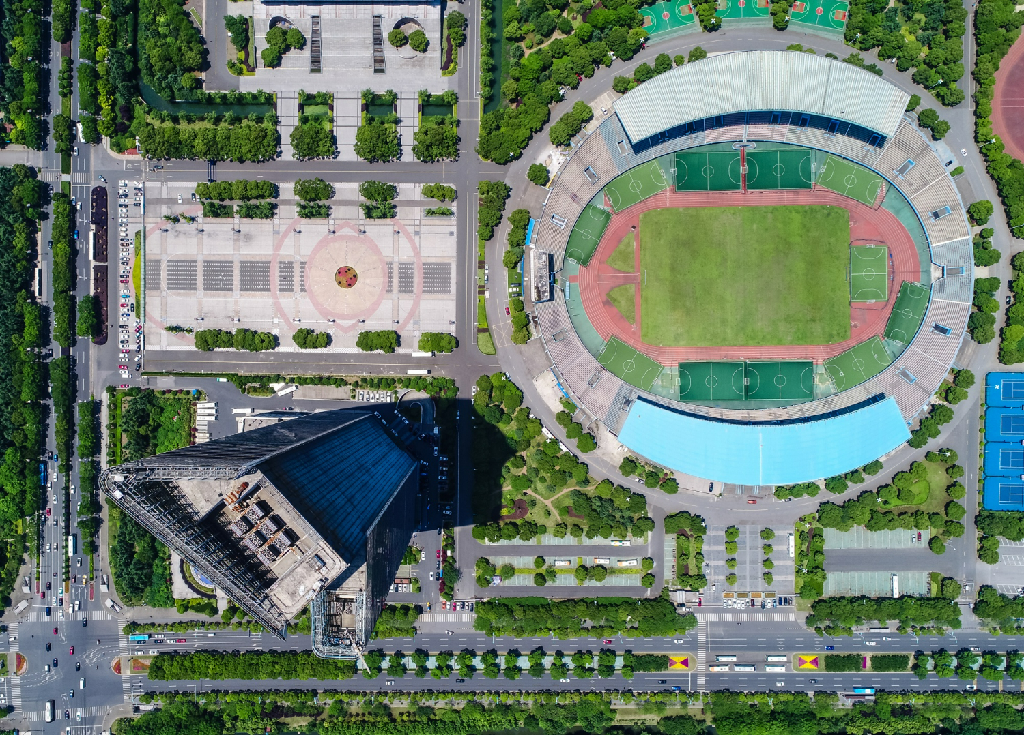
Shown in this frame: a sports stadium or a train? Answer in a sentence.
Of the two, only a sports stadium appears.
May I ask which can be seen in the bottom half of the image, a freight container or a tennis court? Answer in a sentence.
It is a tennis court that can be seen in the bottom half of the image.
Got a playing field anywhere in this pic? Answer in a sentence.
Yes, the picture does show a playing field.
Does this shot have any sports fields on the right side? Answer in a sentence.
Yes, I can see a sports field on the right side.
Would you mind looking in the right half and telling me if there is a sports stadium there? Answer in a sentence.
Yes, I can see a sports stadium in the right half.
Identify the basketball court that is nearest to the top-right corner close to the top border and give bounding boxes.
[790,0,848,29]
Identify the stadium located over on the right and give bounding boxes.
[534,49,976,486]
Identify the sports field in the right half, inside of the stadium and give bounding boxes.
[640,206,851,347]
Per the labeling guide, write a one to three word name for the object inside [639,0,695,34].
basketball court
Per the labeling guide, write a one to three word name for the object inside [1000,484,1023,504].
tennis court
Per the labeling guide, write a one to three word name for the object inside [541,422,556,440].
vehicle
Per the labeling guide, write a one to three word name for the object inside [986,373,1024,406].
tennis court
